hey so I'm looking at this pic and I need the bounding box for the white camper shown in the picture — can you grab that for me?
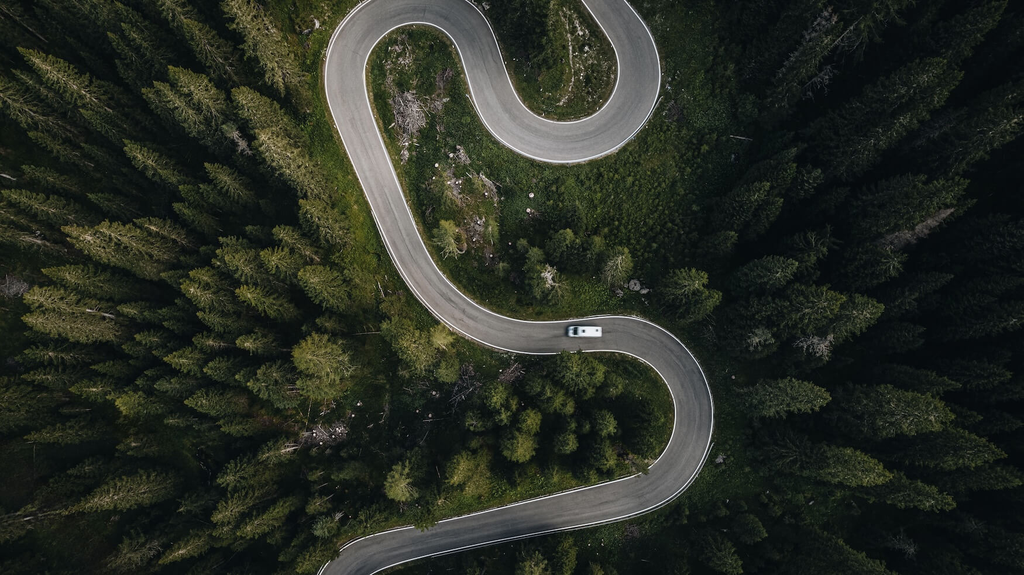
[566,325,602,339]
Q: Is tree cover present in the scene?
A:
Yes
